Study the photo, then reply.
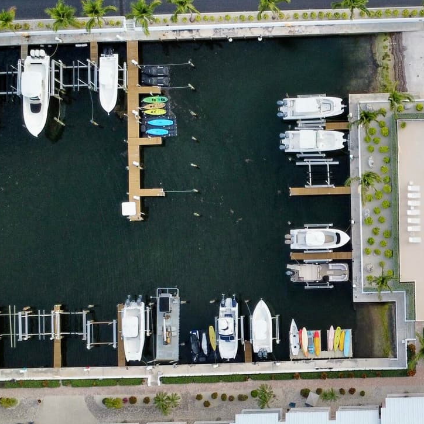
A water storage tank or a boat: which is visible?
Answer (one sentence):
Visible in the photo is a boat.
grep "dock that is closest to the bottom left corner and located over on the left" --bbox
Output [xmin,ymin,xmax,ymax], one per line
[54,304,66,368]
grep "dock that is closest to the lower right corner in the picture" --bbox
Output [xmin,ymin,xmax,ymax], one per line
[289,328,354,359]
